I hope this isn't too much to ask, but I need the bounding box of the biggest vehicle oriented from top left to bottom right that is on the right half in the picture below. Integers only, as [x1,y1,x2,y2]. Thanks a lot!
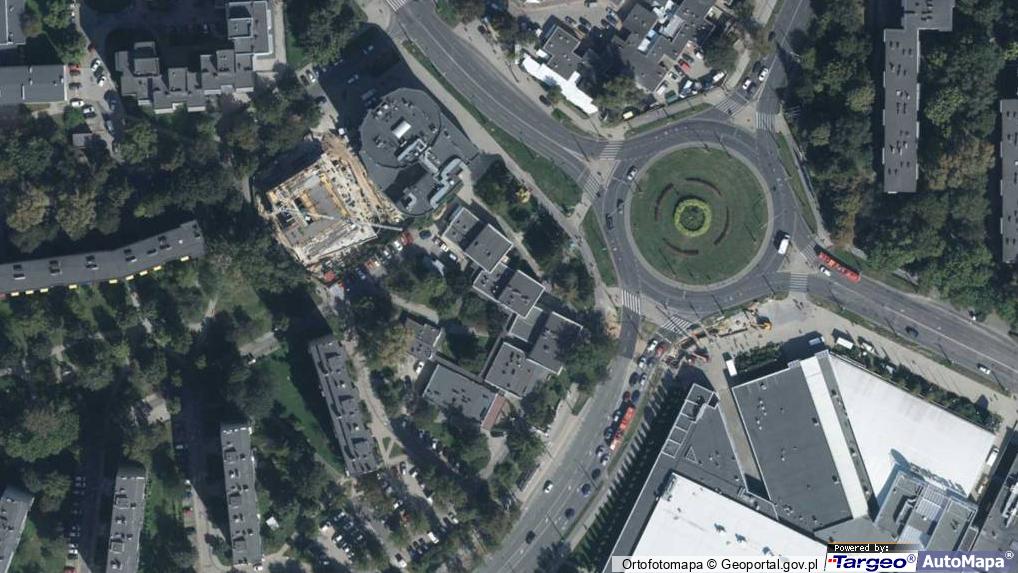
[818,252,861,283]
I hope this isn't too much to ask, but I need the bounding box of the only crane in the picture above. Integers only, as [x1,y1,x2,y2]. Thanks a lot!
[277,207,402,238]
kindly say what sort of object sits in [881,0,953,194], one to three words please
building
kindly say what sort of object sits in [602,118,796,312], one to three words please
roundabout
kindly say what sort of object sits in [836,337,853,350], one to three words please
vehicle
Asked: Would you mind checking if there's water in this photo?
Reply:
No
